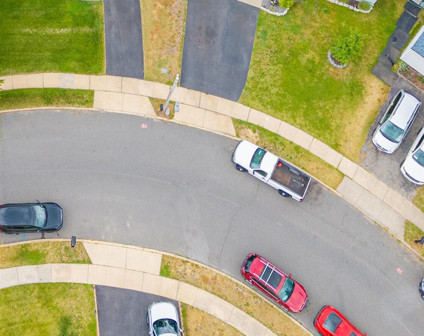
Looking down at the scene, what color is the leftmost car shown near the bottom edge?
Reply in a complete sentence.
The color of the leftmost car shown near the bottom edge is white.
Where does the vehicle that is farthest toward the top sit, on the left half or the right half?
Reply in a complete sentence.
You can find the vehicle that is farthest toward the top on the right side of the picture.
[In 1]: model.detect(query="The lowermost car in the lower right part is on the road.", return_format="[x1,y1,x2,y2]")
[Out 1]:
[307,296,373,336]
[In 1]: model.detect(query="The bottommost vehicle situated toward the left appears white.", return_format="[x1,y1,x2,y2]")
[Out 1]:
[146,297,182,336]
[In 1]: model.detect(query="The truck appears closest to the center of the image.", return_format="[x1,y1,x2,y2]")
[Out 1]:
[229,143,311,203]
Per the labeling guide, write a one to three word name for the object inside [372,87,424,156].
vehicle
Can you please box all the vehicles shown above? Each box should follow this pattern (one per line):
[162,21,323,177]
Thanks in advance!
[372,87,424,156]
[307,296,373,336]
[0,199,62,233]
[235,248,310,317]
[399,128,424,189]
[146,297,182,336]
[229,143,311,203]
